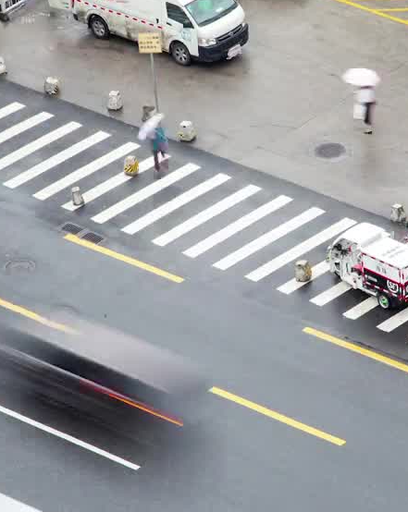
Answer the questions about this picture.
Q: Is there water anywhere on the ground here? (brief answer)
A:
No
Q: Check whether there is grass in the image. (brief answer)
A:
No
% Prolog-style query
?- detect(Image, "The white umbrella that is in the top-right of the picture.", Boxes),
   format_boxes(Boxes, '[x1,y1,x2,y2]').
[339,69,383,103]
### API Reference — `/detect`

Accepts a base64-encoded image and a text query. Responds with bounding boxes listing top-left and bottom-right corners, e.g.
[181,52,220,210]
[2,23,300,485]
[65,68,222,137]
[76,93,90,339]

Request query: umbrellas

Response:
[140,113,170,143]
[339,69,383,103]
